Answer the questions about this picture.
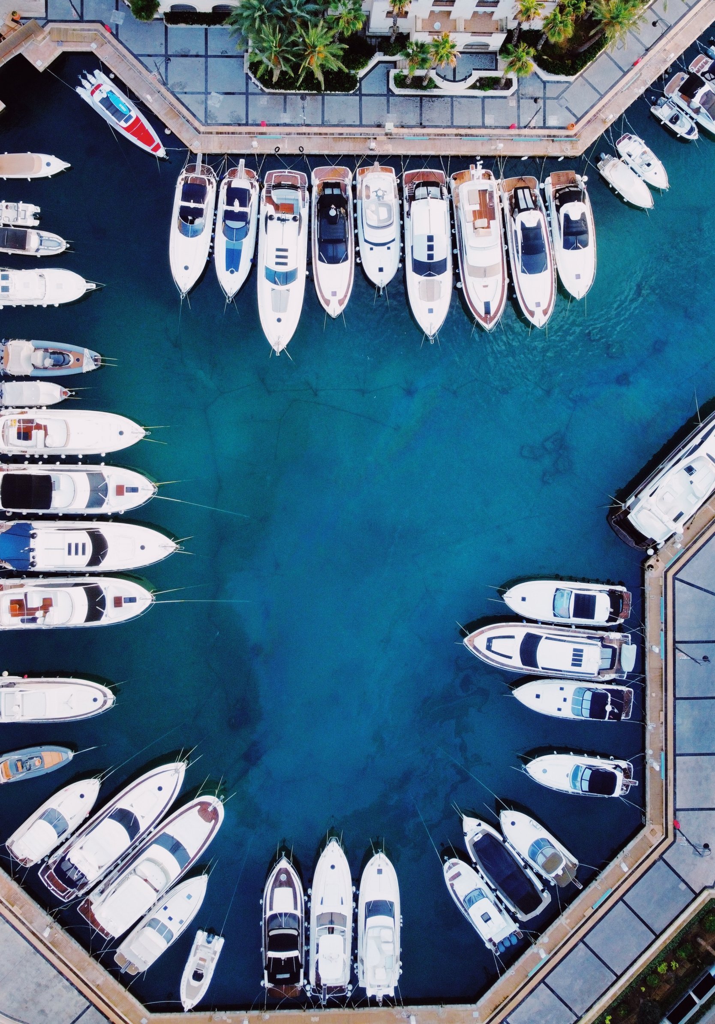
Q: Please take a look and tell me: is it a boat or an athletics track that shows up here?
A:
boat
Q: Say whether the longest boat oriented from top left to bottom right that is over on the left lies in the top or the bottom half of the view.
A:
top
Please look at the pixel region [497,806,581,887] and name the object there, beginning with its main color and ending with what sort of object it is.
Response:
white boat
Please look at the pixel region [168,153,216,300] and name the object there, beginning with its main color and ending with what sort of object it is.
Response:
white boat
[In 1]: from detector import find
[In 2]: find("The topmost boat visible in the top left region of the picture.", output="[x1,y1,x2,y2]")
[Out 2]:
[74,66,170,159]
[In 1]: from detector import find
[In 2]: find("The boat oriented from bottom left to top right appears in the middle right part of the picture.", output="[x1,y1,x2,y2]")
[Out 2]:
[600,405,715,556]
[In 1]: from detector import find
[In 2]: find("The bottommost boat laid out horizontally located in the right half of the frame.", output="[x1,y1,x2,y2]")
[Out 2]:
[519,752,638,800]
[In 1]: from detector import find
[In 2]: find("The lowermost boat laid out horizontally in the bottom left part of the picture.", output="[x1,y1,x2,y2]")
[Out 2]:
[0,747,76,784]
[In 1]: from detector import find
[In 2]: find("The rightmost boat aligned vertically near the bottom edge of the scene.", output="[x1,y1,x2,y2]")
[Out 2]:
[358,848,402,1005]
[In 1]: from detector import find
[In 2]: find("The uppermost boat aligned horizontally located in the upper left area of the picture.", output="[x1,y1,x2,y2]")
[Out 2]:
[0,152,75,179]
